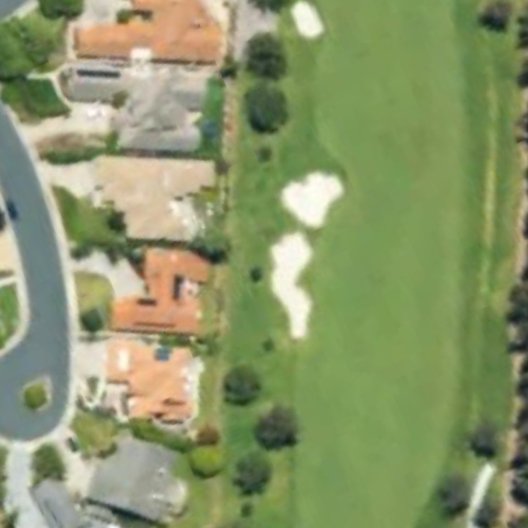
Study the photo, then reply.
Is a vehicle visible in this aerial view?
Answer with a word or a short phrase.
Yes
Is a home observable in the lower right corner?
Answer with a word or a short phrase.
No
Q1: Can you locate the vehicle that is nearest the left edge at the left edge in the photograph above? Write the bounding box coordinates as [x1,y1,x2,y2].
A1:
[4,197,21,221]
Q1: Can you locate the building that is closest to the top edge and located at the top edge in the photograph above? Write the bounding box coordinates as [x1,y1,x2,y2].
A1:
[75,0,231,68]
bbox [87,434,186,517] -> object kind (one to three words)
house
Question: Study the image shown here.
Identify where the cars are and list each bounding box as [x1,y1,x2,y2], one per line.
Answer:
[4,197,21,221]
[64,435,82,456]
